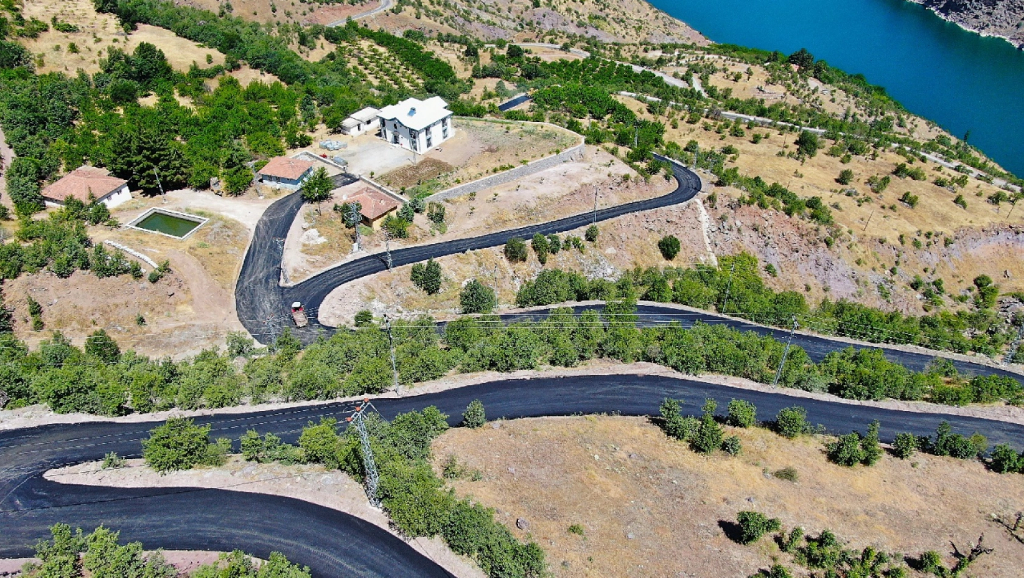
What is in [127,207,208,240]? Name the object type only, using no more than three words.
pond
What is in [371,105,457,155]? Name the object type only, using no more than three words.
house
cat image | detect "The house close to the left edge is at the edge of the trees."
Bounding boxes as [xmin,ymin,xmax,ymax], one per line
[38,172,141,212]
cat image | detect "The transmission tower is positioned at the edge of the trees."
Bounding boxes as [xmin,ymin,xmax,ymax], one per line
[340,401,382,514]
